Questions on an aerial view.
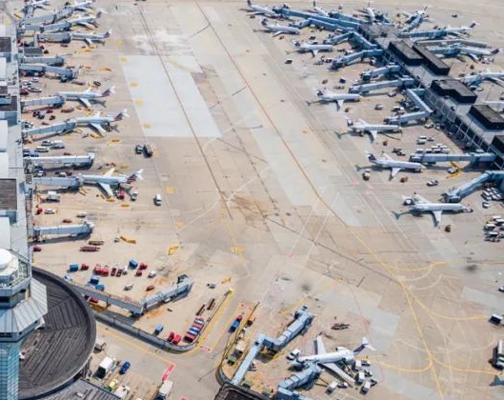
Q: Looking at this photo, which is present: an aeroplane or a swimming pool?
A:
aeroplane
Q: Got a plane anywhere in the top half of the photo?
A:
Yes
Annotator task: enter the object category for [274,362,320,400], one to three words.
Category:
jet bridge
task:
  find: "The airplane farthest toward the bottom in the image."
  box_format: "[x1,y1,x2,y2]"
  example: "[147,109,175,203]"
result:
[290,337,365,378]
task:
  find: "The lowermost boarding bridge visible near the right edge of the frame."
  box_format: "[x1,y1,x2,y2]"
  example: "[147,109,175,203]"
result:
[443,171,502,213]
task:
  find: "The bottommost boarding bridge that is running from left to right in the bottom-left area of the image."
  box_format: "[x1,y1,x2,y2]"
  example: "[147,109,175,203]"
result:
[63,273,193,324]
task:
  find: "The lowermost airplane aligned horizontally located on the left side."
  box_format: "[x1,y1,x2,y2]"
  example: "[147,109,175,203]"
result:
[76,169,131,192]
